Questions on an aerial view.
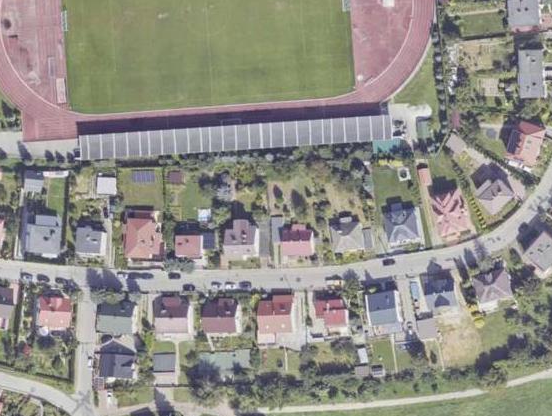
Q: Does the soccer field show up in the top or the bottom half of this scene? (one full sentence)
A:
You can find the soccer field in the top half.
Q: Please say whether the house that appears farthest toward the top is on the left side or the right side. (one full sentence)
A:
The house that appears farthest toward the top sits on the right side.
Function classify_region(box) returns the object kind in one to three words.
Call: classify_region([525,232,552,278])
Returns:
house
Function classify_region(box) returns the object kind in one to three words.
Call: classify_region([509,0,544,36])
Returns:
house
